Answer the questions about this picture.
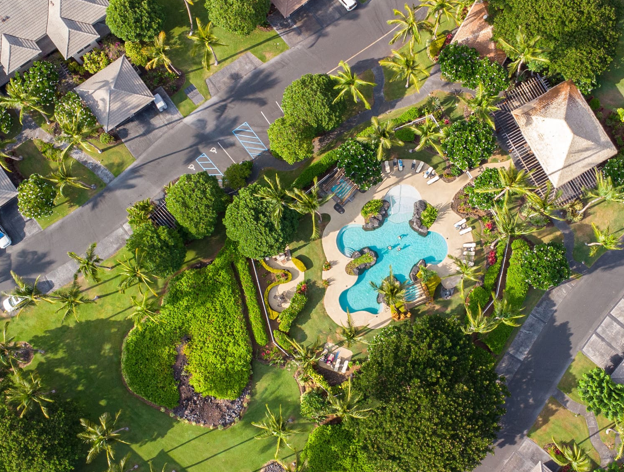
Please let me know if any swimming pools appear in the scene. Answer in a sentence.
Yes, a swimming pool can be made out from above.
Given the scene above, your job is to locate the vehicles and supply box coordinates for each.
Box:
[154,95,168,113]
[340,0,358,13]
[0,226,10,250]
[0,288,32,313]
